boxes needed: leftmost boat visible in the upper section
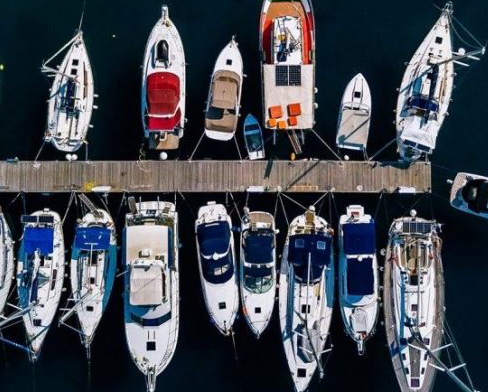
[38,33,98,151]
